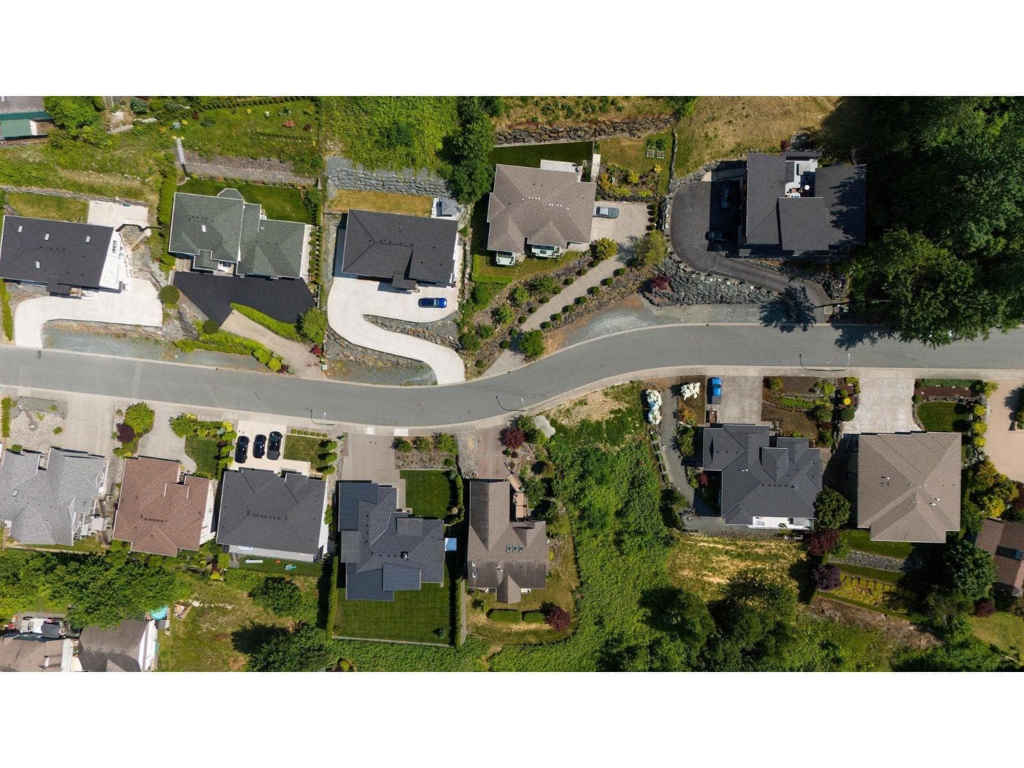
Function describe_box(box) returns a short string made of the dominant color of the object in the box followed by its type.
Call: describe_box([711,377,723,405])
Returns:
blue vehicle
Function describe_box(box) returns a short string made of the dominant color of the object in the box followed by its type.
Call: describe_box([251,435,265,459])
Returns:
black car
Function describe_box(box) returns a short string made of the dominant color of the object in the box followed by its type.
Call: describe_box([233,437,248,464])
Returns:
black car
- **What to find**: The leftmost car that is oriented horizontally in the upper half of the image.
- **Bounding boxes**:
[419,295,446,308]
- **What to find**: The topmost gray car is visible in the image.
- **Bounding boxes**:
[594,205,619,218]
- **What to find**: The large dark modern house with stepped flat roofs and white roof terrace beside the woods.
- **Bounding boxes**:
[732,151,867,257]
